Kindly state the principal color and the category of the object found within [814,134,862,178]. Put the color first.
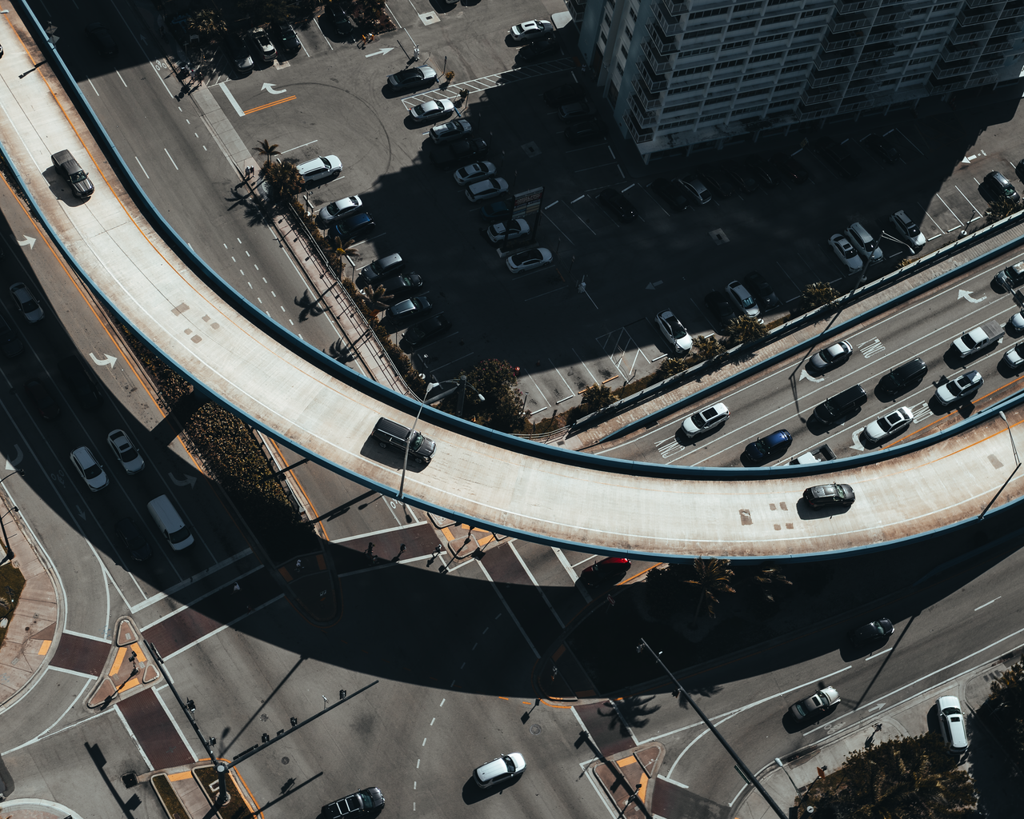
black truck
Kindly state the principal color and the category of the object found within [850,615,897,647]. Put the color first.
black car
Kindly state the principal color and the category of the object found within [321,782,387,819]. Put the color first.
black car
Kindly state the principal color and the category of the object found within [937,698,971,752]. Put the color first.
white car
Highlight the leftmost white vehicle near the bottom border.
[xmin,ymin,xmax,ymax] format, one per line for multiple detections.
[471,751,527,789]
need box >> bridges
[0,0,1024,568]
